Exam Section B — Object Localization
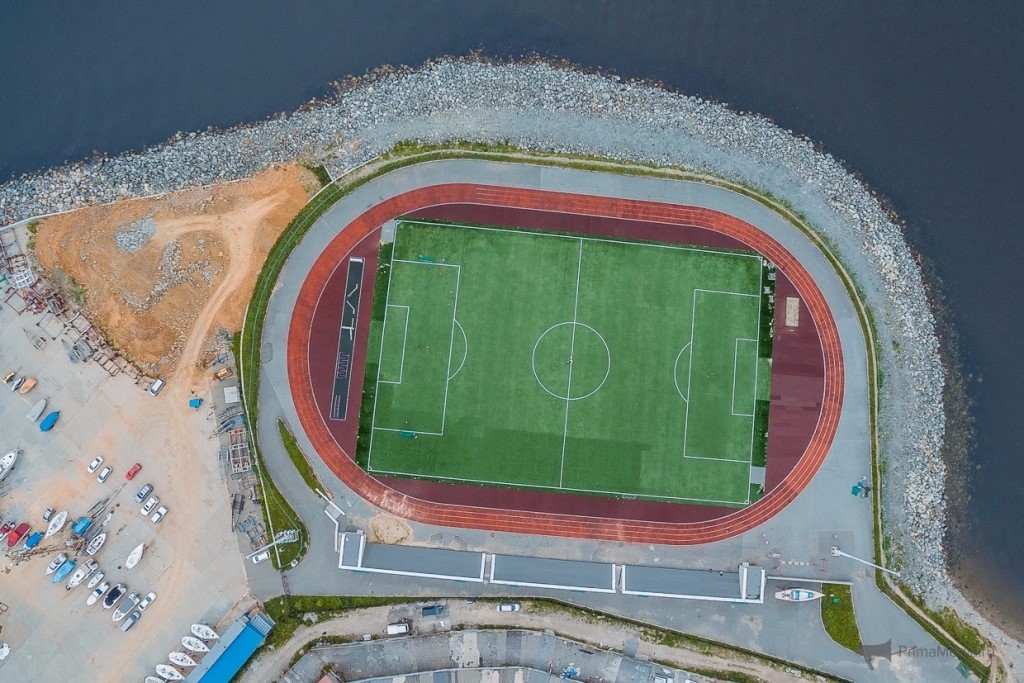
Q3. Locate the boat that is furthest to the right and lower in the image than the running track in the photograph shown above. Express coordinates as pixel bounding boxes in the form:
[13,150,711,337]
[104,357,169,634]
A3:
[774,588,826,602]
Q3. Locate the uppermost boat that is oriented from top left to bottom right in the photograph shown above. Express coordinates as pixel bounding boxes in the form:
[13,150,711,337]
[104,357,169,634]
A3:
[62,340,80,362]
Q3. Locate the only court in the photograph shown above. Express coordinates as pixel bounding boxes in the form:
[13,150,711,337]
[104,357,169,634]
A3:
[330,258,365,420]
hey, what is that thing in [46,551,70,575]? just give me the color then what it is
white boat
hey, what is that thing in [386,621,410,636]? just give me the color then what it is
white vehicle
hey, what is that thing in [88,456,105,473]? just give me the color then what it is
white car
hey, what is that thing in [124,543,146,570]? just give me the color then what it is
white boat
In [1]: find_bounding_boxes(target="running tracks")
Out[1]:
[287,183,844,546]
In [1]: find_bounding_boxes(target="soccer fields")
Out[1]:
[355,217,776,509]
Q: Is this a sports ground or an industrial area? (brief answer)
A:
sports ground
